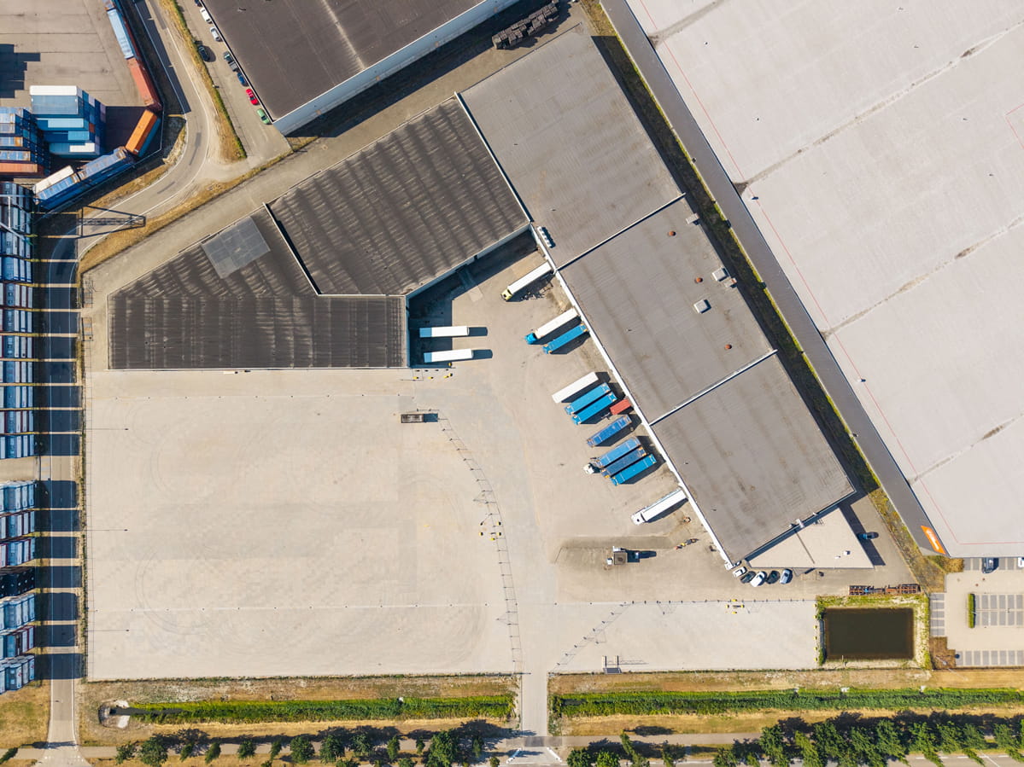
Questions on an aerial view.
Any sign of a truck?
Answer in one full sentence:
Yes, I can see a truck in this picture.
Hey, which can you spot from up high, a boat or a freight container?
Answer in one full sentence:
The image shows a freight container.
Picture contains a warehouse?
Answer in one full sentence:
Yes, I can see a warehouse in this picture.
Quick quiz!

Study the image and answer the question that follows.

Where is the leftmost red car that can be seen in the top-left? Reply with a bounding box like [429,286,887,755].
[246,88,259,106]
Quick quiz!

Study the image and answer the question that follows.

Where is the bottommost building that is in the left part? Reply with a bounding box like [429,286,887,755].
[108,203,411,373]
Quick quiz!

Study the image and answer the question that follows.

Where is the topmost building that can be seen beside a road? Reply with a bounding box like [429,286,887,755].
[204,0,533,136]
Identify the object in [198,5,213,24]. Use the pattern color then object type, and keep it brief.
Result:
white car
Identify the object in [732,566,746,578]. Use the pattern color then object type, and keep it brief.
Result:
white vehicle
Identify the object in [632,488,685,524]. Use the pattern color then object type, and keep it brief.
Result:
white truck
